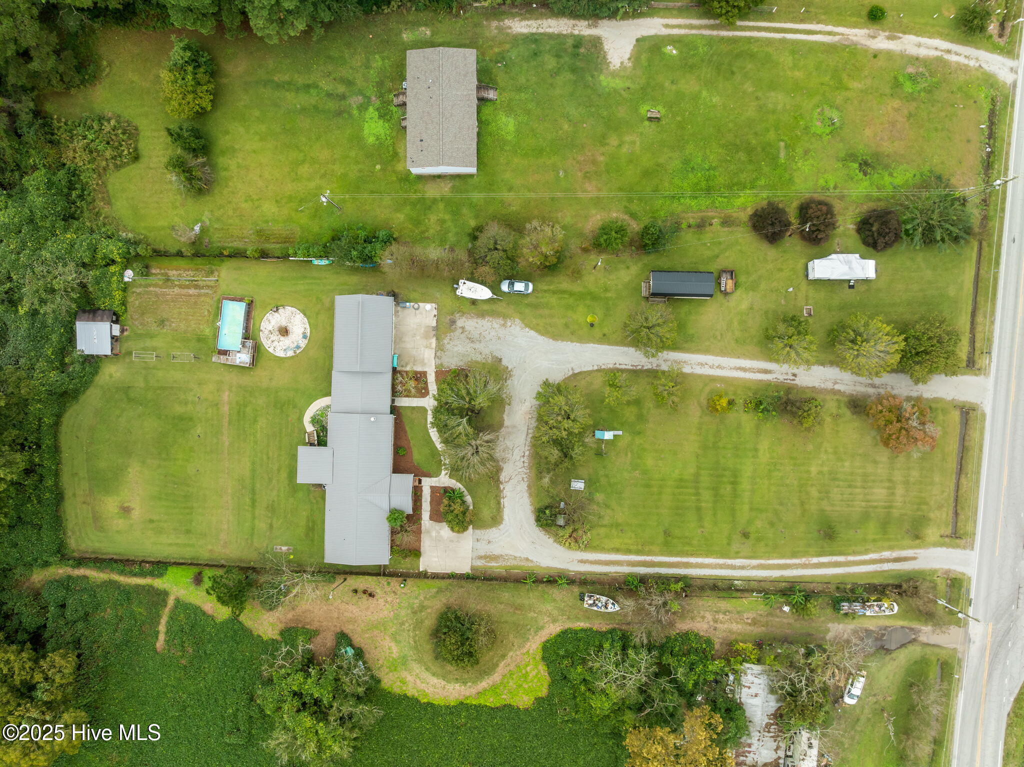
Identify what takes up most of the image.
grass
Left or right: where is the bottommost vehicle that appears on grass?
right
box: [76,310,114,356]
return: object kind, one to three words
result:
shed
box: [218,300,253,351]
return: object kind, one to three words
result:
swimming pool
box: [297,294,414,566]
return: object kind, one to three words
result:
house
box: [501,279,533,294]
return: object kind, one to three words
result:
car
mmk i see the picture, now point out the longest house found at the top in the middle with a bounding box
[407,47,477,175]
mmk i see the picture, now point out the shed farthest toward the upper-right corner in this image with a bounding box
[649,271,715,298]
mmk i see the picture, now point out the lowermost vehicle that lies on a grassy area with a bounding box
[843,669,867,704]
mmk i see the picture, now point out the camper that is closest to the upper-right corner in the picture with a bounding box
[802,254,876,281]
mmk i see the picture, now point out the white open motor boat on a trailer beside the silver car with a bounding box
[453,278,501,299]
